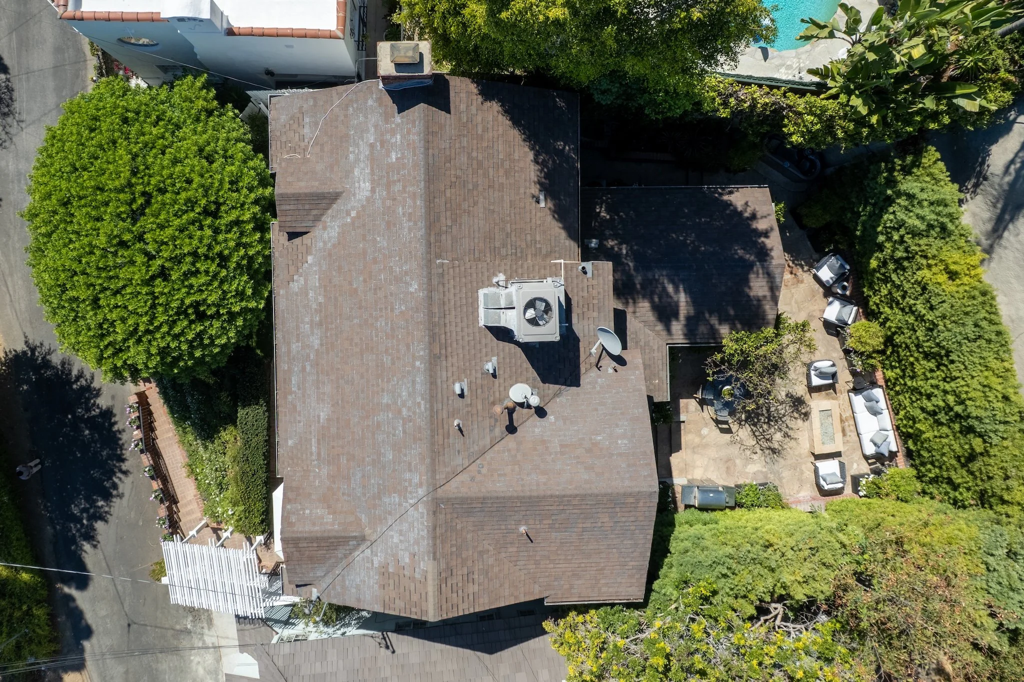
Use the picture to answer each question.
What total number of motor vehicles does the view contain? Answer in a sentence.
No motor vehicles are visible.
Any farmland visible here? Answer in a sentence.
No, the picture contains no farmland.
